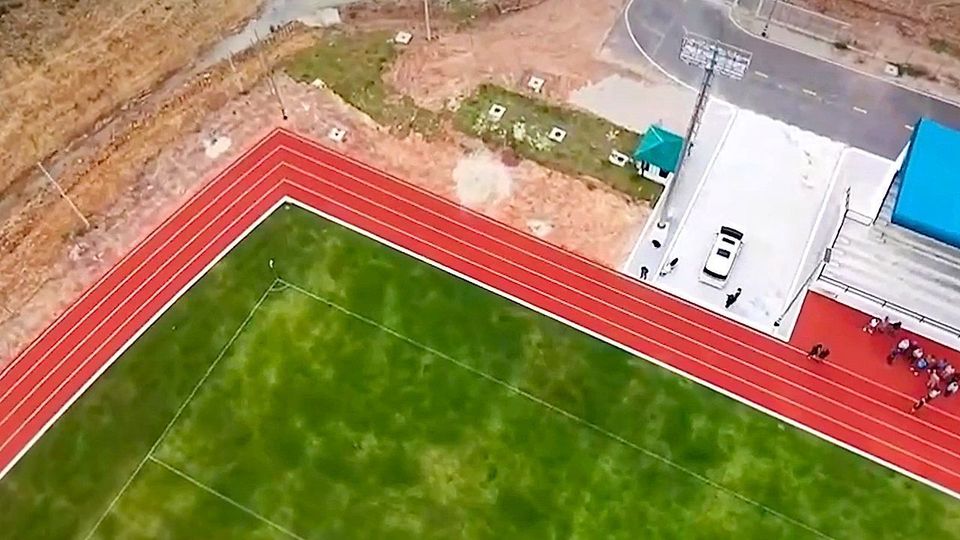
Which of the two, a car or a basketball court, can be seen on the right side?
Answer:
car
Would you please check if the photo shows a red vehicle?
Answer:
No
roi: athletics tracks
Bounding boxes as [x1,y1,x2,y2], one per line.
[0,127,960,502]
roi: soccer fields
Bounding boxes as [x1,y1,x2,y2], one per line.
[0,202,960,540]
